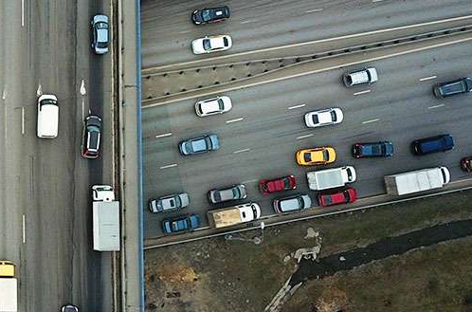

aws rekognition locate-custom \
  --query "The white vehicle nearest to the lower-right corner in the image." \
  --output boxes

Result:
[382,165,453,198]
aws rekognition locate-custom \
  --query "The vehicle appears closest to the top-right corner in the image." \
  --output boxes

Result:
[430,76,472,100]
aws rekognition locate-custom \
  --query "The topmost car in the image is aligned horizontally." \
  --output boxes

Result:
[191,7,230,26]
